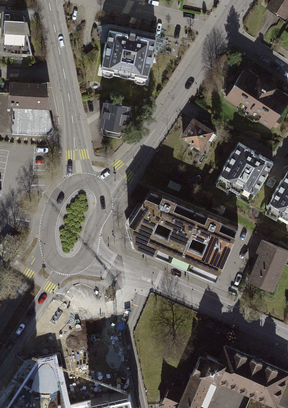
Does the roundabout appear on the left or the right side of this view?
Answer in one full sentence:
You can find the roundabout on the left side of the picture.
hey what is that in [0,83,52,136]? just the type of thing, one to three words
house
